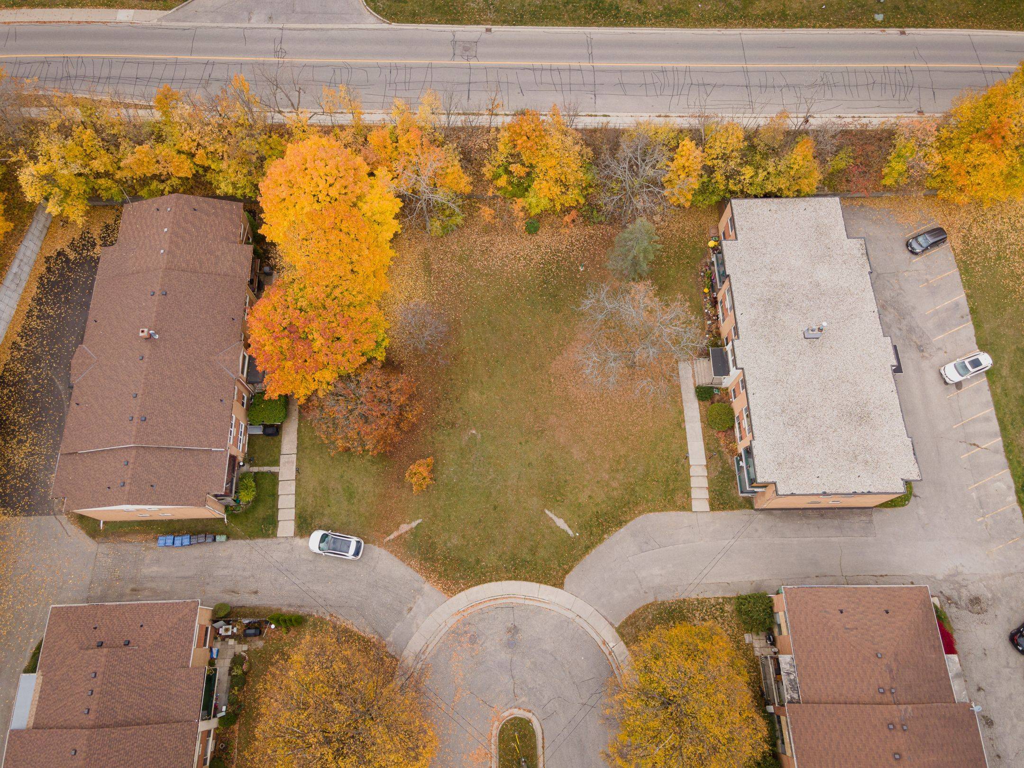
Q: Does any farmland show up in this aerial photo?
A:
No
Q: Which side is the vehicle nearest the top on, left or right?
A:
right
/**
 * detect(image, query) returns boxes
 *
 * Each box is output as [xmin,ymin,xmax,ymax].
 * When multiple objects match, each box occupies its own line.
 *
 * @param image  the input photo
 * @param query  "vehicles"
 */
[308,528,365,560]
[940,349,997,384]
[1006,628,1024,656]
[904,221,953,256]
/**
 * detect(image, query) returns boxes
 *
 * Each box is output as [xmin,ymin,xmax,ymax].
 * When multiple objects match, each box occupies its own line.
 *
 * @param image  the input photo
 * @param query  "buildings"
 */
[695,198,922,508]
[53,193,285,535]
[3,601,221,768]
[748,585,986,768]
